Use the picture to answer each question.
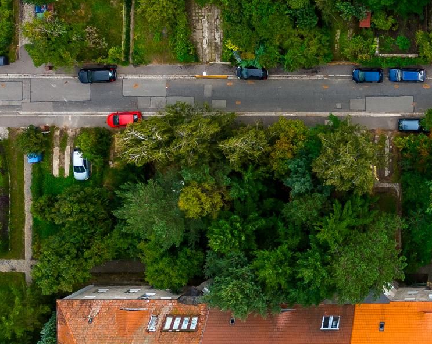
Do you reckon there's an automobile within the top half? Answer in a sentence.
Yes, an automobile appears within the top half.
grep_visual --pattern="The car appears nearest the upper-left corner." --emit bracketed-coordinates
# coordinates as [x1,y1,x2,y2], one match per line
[80,67,119,84]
